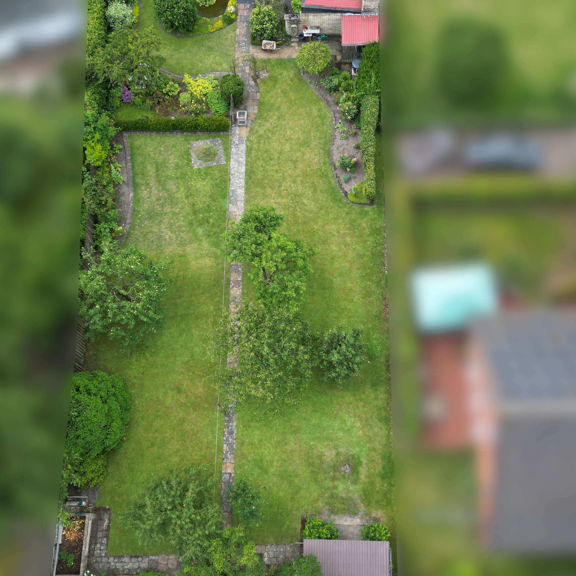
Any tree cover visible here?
Yes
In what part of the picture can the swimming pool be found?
right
